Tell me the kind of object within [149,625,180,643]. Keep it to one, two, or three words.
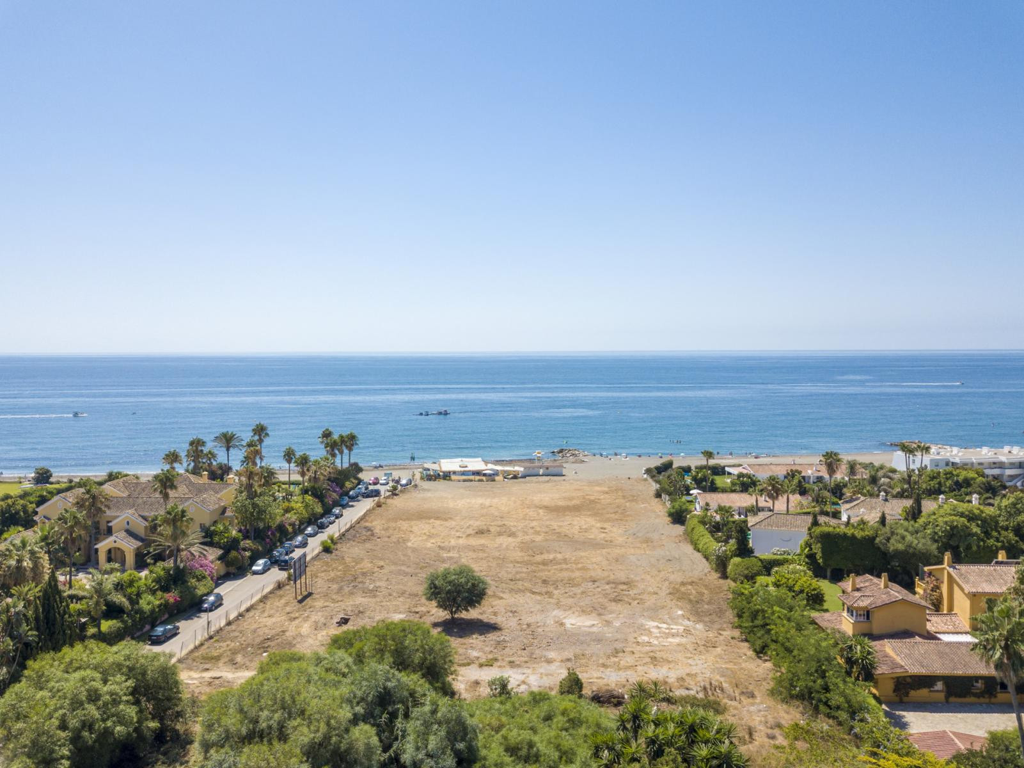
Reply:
car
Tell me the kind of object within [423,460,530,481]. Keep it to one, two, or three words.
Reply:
building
